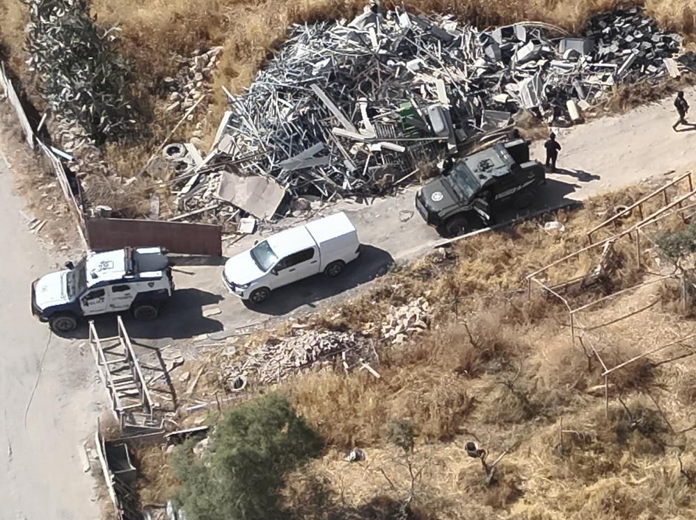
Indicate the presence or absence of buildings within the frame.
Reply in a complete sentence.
No, no building is visible in the view.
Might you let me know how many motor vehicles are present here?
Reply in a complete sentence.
Looking from above, you can make out 3 motor vehicles.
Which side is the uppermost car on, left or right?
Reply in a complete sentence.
It is on the right.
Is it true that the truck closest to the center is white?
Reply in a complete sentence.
Yes, the truck closest to the center appears white.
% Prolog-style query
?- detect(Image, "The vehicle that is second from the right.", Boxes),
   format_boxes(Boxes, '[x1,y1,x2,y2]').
[213,203,364,306]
